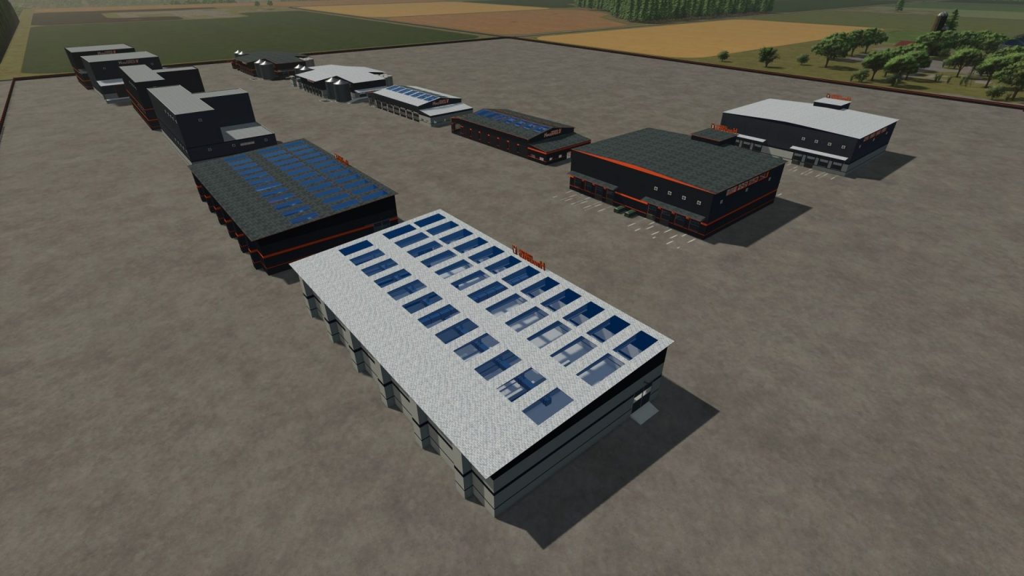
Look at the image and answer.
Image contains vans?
No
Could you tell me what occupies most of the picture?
paved ground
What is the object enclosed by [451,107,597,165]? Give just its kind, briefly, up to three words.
shed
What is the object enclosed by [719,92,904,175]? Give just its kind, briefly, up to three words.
building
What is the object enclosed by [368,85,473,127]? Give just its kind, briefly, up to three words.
shed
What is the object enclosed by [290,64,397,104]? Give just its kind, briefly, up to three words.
building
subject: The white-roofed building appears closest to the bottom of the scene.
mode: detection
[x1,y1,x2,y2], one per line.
[287,210,675,517]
